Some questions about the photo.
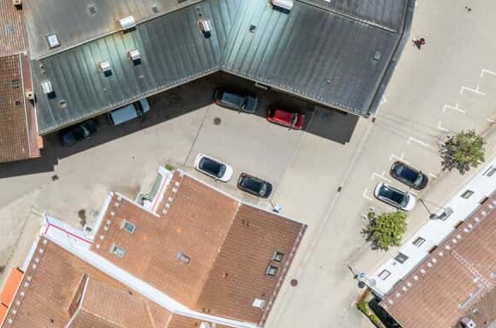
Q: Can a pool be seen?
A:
No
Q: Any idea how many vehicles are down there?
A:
8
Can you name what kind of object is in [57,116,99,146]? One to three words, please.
car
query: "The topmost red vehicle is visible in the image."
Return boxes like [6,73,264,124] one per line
[262,103,304,130]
